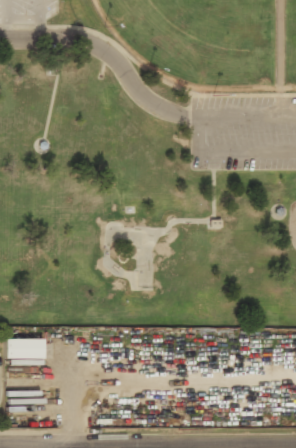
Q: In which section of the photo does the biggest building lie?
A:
bottom left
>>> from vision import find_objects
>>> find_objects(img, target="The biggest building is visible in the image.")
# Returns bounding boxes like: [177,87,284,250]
[5,340,47,360]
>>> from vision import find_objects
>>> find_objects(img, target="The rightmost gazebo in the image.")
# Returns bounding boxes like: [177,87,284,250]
[271,204,286,220]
